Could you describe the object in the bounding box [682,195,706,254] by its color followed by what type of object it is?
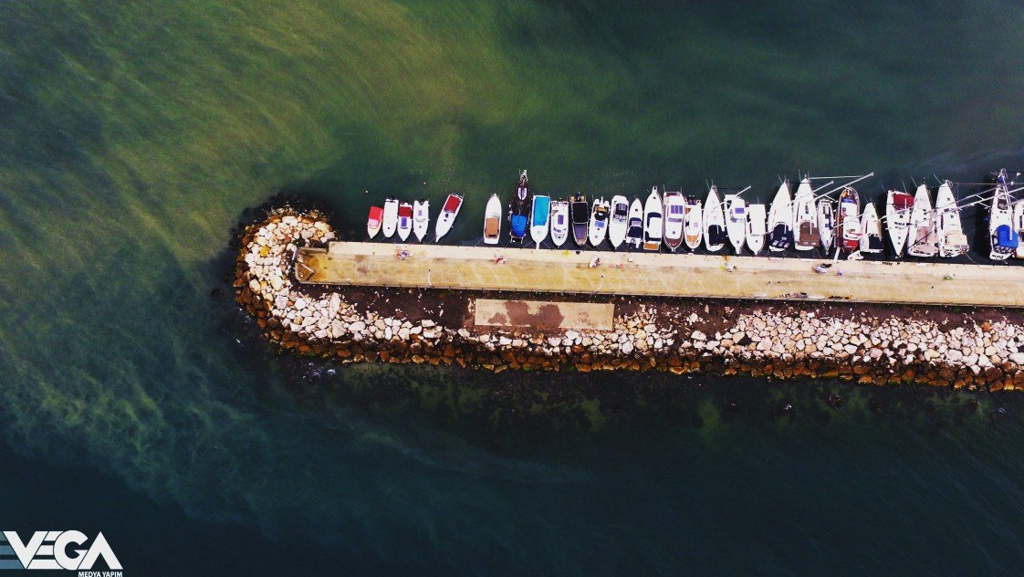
white boat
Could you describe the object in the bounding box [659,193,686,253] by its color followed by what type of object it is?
white boat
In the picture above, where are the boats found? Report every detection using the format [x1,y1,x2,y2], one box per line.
[1009,188,1024,261]
[682,195,706,254]
[792,172,872,258]
[765,175,833,257]
[428,192,463,243]
[744,201,768,256]
[607,195,629,251]
[364,204,384,242]
[627,198,643,248]
[720,196,745,255]
[395,201,413,243]
[483,194,501,246]
[523,193,551,248]
[882,188,968,261]
[550,199,569,249]
[506,172,532,247]
[414,197,430,243]
[983,170,1024,264]
[588,197,610,250]
[852,196,918,257]
[829,186,858,262]
[813,196,860,257]
[659,193,686,253]
[701,181,752,255]
[379,197,399,242]
[642,183,662,253]
[571,196,589,249]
